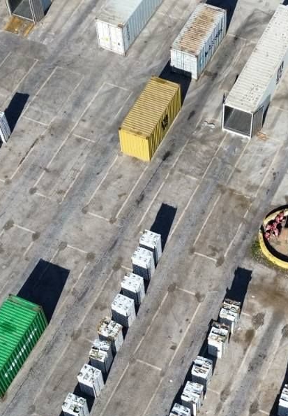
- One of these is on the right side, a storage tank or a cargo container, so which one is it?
cargo container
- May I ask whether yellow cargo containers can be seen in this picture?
Yes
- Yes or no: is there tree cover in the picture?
No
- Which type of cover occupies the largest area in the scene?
paved ground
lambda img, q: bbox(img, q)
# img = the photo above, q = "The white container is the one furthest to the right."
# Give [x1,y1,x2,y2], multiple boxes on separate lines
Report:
[223,3,288,138]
